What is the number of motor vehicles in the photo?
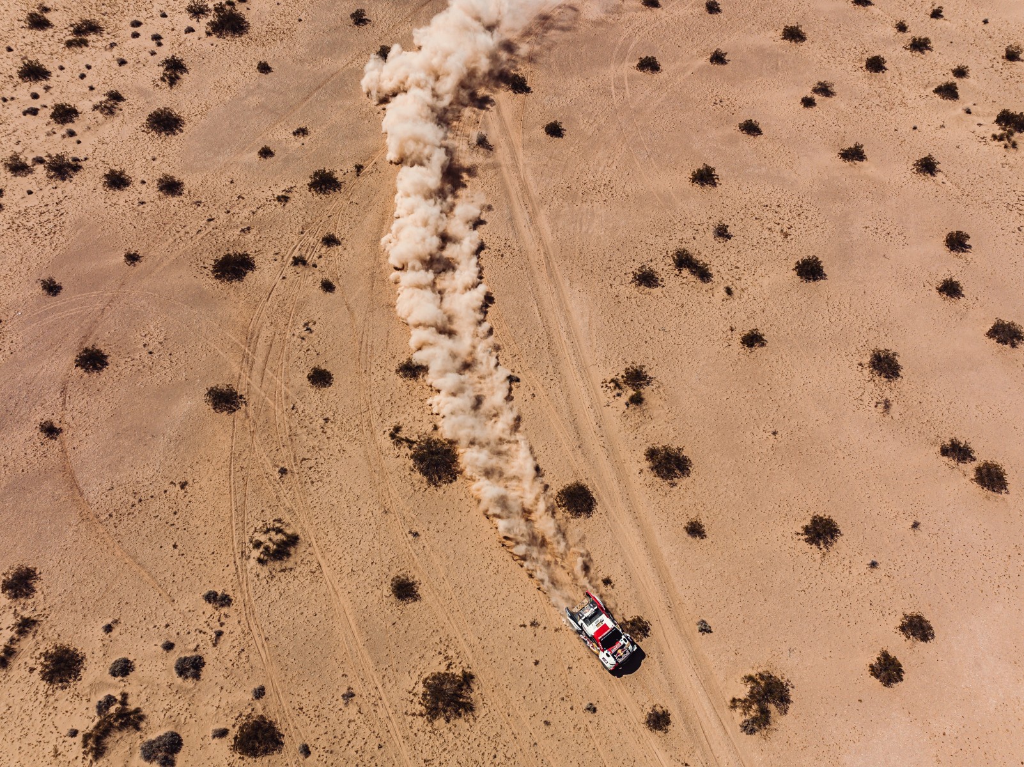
one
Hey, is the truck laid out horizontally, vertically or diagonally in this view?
diagonally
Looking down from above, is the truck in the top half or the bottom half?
bottom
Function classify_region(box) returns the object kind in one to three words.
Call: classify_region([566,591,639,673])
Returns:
truck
